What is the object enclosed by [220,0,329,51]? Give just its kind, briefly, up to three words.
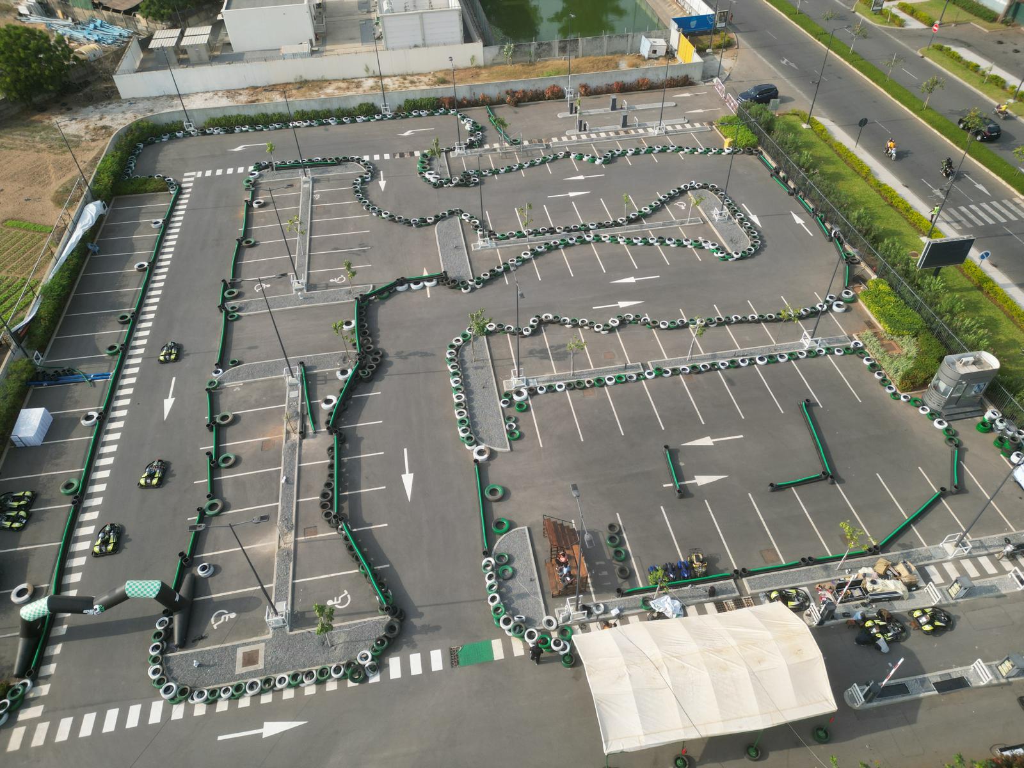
building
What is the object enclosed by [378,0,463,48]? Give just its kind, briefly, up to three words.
building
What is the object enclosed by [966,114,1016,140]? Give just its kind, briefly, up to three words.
car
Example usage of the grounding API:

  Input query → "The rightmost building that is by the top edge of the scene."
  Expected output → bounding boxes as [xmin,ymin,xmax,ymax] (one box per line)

[638,35,670,62]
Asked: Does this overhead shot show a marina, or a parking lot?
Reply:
parking lot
